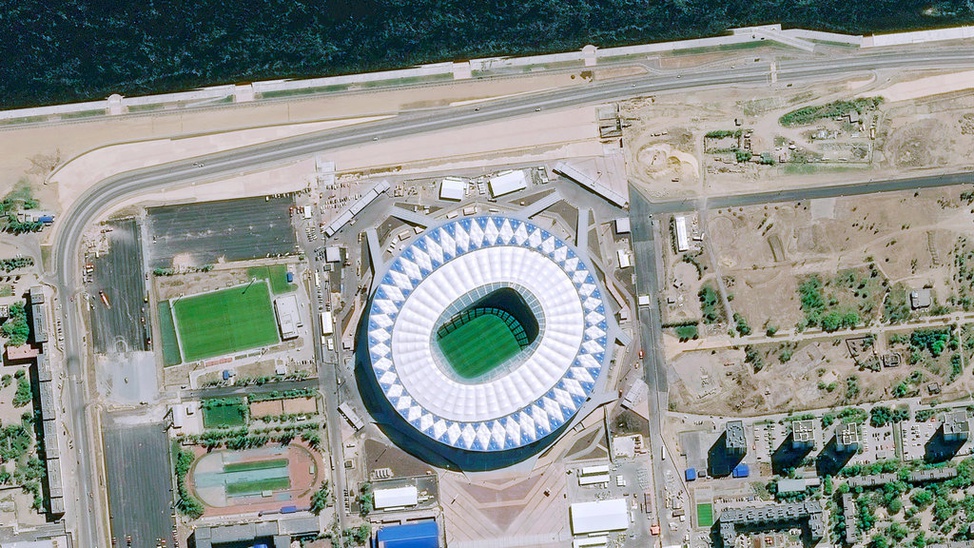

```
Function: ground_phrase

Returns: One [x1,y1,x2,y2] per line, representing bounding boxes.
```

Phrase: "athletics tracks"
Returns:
[185,441,326,518]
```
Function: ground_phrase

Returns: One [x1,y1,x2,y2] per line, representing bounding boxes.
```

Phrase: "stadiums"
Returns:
[356,213,618,481]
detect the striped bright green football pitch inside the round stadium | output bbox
[435,292,540,383]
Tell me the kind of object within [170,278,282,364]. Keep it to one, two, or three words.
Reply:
soccer field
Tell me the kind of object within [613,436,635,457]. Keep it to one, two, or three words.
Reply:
building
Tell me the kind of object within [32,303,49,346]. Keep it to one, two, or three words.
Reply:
building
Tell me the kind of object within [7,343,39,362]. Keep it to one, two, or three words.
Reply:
house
